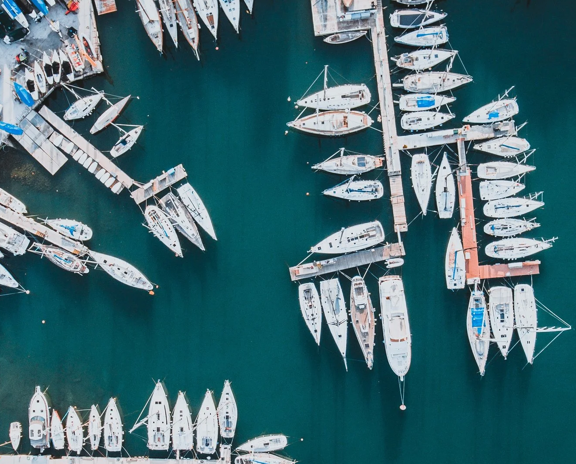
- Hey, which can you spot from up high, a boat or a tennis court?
boat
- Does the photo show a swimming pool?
No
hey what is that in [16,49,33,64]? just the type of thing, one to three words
work vehicle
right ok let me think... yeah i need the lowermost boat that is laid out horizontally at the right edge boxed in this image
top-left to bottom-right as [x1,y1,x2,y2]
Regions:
[479,235,559,260]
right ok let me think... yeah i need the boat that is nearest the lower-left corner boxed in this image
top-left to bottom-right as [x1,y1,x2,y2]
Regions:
[0,422,23,453]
